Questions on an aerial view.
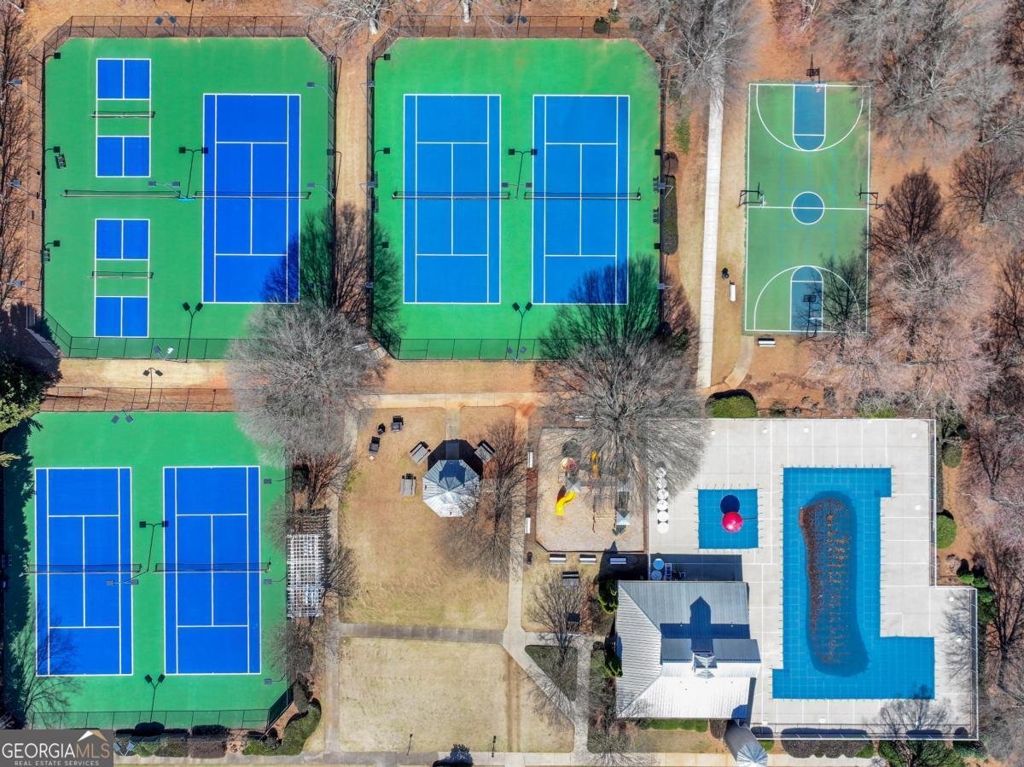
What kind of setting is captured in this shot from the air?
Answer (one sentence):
It's a sports ground.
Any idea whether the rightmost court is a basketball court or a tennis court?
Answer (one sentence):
What you see as the rightmost court is a basketball court.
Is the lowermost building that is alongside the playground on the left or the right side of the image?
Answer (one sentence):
The lowermost building that is alongside the playground appears in the right half of the scene.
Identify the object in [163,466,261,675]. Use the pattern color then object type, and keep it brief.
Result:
blue tennis court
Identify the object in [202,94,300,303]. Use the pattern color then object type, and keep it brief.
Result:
blue tennis court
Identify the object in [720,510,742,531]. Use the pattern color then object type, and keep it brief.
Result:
red fountain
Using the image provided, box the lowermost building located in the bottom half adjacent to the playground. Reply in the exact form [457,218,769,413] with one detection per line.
[616,580,764,720]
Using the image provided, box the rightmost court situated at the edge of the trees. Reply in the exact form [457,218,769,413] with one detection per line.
[744,82,871,334]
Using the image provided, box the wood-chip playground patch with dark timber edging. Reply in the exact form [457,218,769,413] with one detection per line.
[537,429,647,551]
